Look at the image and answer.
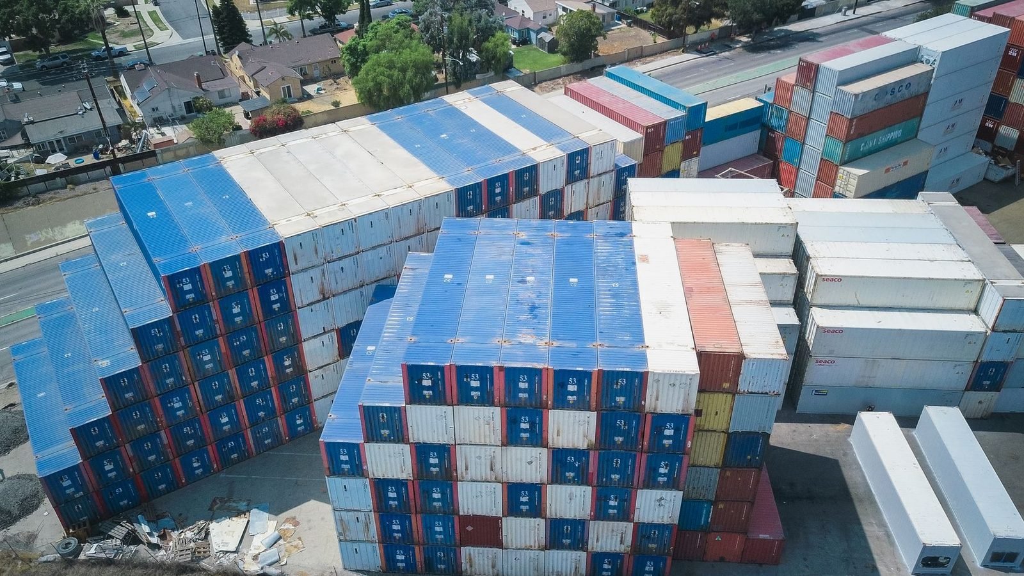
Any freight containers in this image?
Yes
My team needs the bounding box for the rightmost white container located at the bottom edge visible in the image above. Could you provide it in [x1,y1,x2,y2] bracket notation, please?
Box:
[915,406,1024,567]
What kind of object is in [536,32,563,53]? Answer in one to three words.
shed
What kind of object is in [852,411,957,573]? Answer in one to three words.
shipping container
